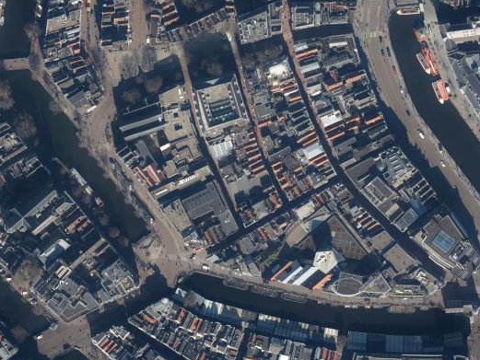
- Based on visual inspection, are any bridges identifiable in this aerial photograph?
Yes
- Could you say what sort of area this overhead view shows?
residential area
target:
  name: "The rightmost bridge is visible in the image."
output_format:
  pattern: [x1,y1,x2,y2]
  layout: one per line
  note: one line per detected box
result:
[132,229,192,285]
